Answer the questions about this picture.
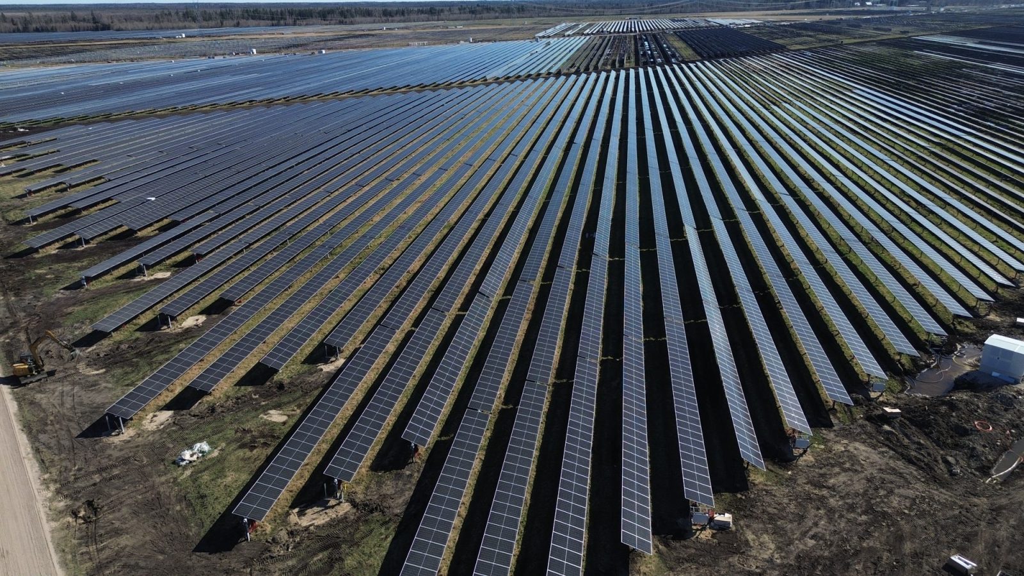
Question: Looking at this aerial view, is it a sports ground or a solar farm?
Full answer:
It's a solar farm.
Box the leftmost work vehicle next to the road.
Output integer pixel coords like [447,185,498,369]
[7,327,80,388]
